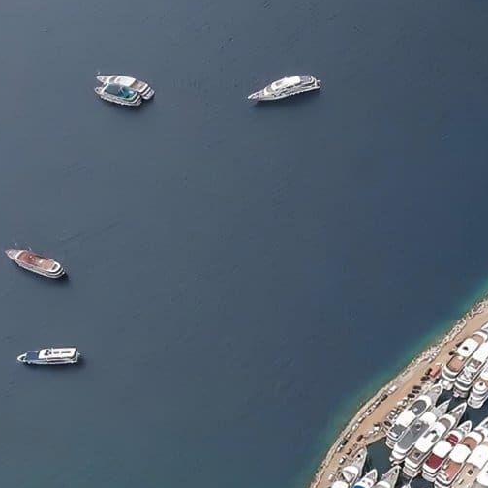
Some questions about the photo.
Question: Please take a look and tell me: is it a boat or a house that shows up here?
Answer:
boat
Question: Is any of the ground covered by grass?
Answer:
No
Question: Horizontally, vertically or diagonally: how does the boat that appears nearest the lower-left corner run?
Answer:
horizontally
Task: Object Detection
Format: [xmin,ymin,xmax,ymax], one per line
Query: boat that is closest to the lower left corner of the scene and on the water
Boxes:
[19,345,82,367]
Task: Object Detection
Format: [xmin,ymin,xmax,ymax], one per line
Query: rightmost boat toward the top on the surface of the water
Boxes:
[249,75,323,102]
